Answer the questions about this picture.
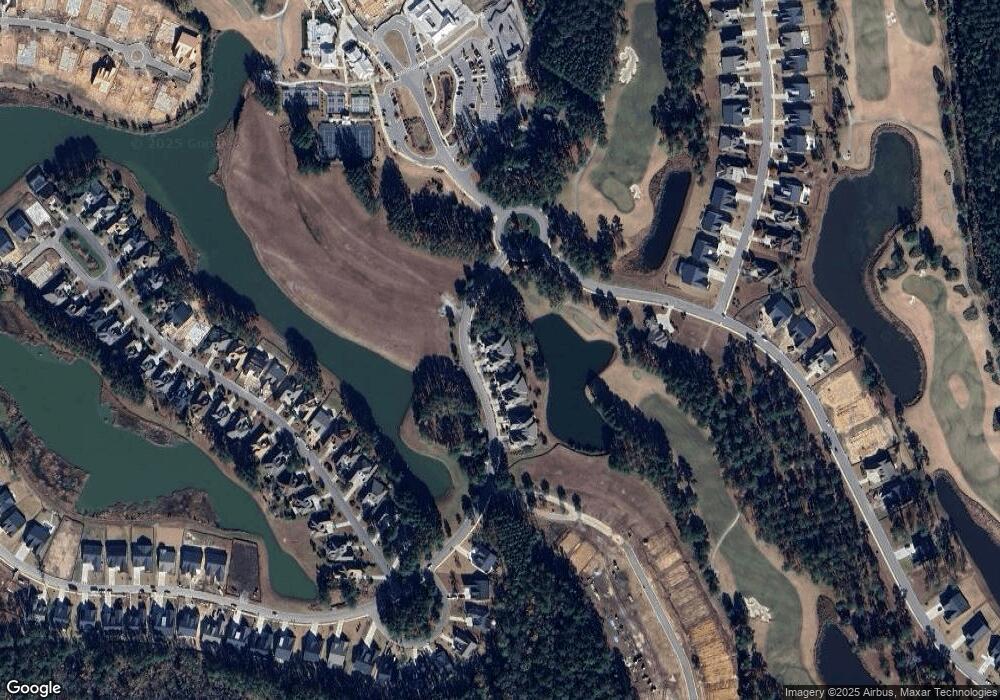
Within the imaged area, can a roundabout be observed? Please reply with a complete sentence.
Yes, looking at the shot, I can spot a roundabout.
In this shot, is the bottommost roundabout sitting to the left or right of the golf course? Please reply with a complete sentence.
The golf course has the bottommost roundabout on its left side.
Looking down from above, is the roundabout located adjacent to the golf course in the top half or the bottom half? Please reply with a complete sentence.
The roundabout located adjacent to the golf course sits in the top half of the picture.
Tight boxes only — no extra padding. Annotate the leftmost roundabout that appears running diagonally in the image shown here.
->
[53,218,116,289]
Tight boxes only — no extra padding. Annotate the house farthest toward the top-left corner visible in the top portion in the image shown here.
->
[89,62,118,89]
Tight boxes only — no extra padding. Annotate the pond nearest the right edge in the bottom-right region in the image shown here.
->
[934,471,1000,609]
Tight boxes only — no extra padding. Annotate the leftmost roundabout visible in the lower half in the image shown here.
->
[369,560,450,647]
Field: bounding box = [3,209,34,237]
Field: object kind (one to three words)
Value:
house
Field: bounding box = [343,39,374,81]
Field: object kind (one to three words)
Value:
building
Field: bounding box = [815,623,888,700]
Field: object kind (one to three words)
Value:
pond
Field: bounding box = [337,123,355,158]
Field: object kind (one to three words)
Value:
tennis court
